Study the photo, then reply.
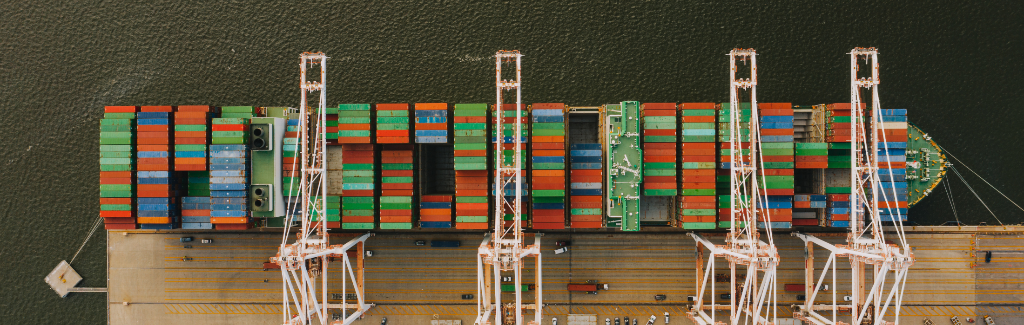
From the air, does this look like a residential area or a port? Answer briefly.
port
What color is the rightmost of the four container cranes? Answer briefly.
white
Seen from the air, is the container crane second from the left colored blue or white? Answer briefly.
white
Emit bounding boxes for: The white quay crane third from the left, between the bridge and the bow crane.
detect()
[685,48,783,325]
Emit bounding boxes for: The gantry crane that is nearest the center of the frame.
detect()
[474,50,545,325]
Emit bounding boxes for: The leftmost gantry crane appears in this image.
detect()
[273,51,374,325]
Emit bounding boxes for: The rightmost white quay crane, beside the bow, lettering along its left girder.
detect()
[789,47,915,325]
